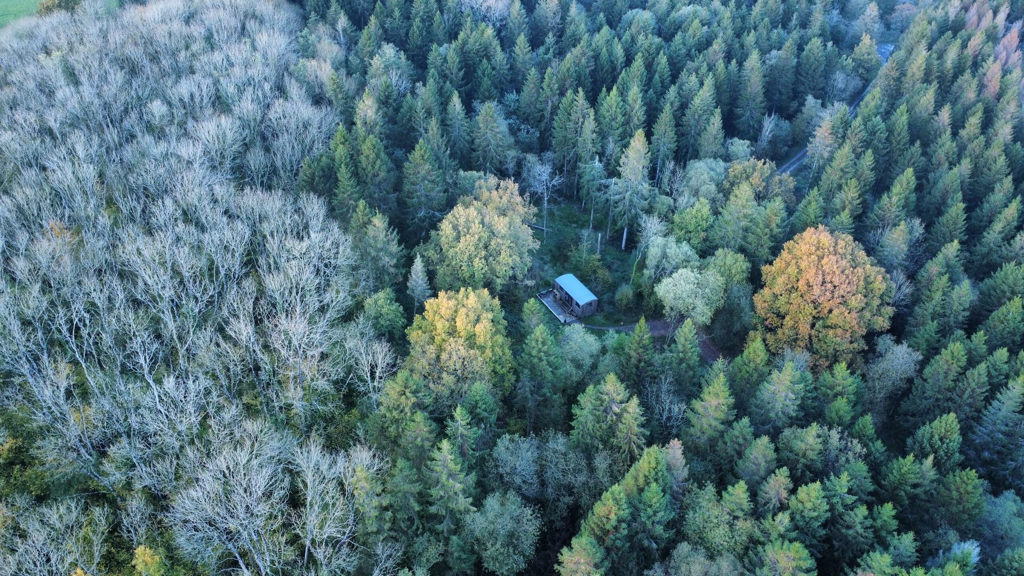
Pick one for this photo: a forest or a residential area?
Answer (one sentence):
This looks like a forest.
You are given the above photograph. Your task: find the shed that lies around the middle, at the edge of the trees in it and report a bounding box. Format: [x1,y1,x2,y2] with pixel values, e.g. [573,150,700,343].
[554,272,598,318]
